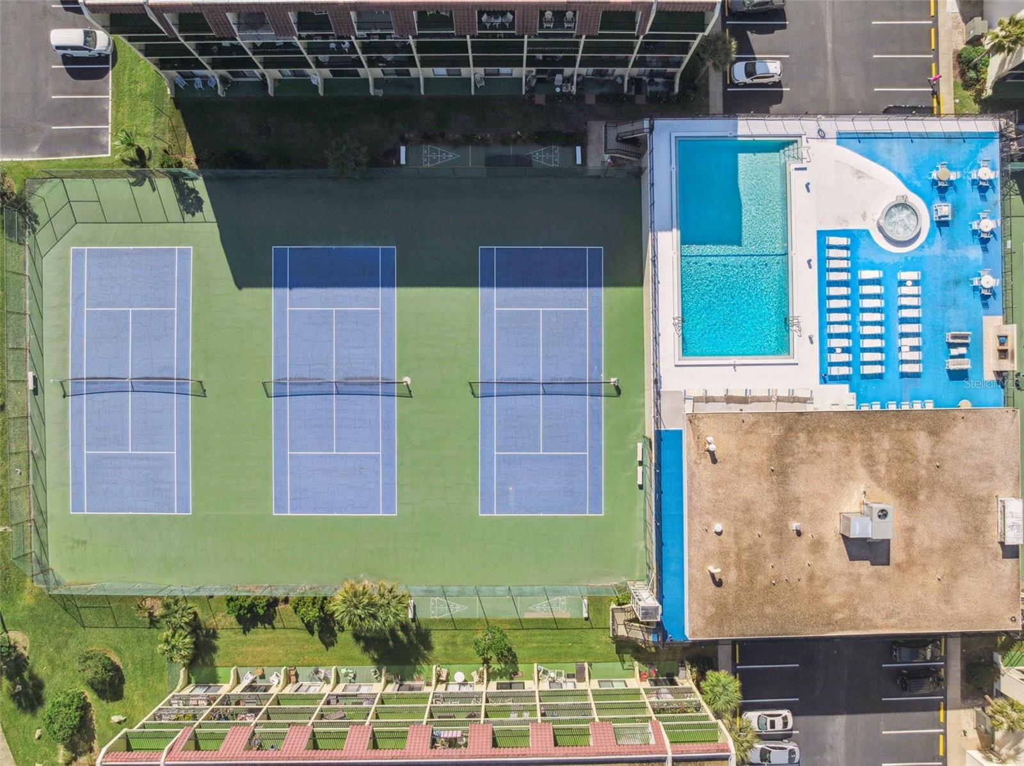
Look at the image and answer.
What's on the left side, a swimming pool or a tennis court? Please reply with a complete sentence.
Visible on the left side is a tennis court.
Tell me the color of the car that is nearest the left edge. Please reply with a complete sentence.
In this view, the car that is nearest the left edge is white.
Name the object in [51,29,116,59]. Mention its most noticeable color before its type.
white car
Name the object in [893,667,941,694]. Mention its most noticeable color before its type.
black car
